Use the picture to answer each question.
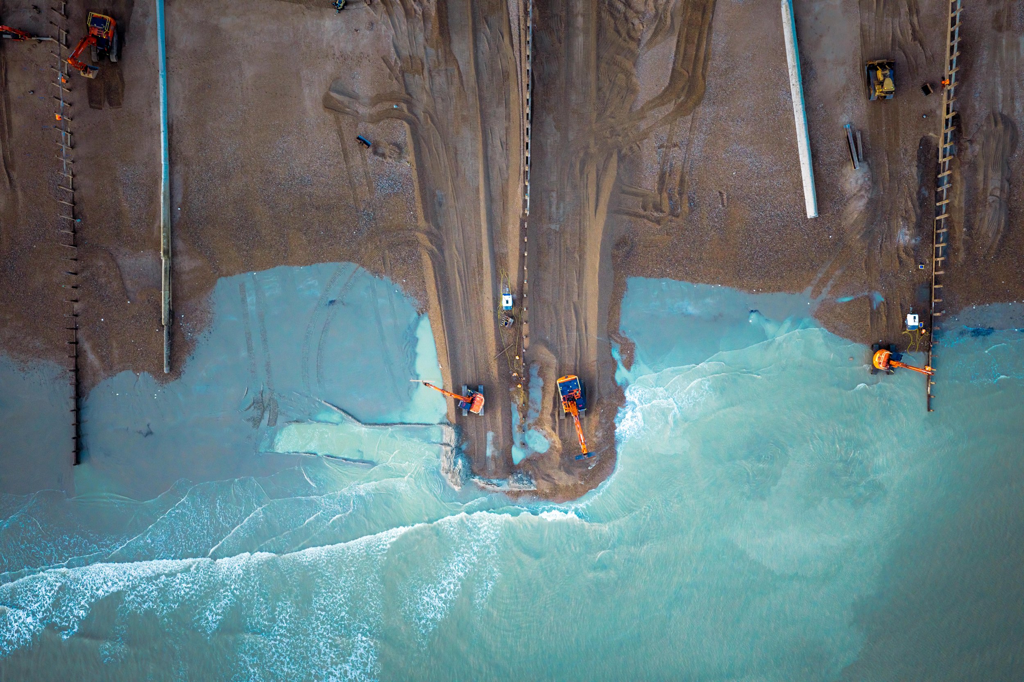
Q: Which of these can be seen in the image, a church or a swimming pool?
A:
swimming pool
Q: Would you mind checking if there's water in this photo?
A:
Yes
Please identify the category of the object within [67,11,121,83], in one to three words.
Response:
work vehicle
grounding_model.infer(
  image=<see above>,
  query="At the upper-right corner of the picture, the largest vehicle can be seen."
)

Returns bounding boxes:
[863,64,898,105]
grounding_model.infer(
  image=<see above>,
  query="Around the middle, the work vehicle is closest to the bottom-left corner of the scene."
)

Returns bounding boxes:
[421,382,486,417]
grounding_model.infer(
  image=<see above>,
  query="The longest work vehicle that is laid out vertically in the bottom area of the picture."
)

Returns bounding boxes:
[558,376,595,458]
